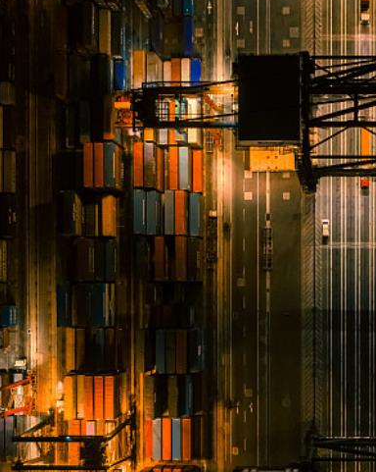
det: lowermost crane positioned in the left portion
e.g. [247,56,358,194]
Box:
[6,416,134,472]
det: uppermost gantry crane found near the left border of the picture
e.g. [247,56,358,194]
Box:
[0,370,37,422]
